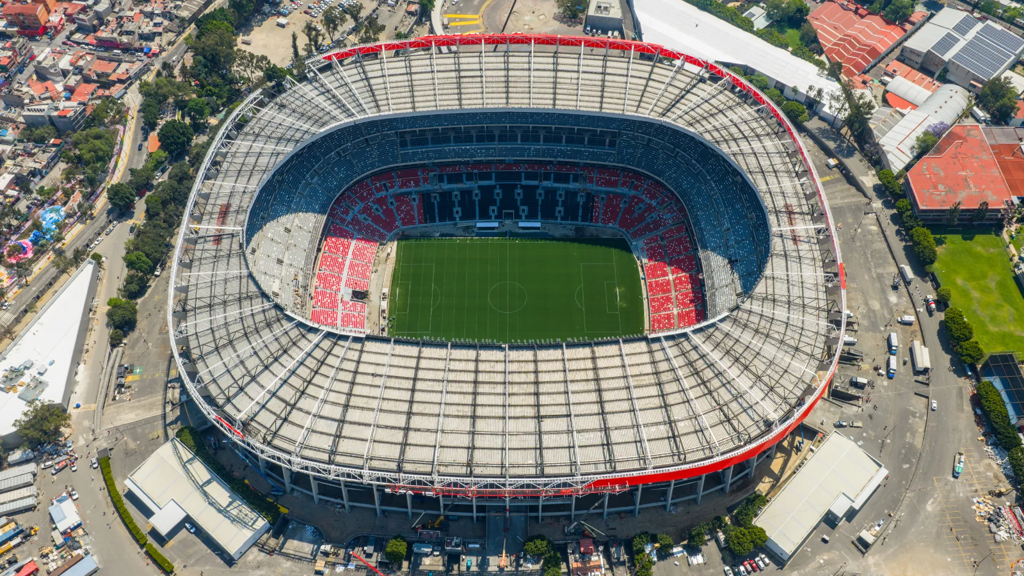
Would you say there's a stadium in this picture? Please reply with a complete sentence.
Yes, there's a stadium down there.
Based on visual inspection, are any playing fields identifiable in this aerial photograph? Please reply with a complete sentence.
Yes, there's a playing field down there.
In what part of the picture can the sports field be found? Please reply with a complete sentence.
The sports field is located in the center region of the scene.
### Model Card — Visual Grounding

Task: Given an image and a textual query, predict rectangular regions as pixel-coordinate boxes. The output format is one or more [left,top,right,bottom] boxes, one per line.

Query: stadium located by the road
[167,34,847,528]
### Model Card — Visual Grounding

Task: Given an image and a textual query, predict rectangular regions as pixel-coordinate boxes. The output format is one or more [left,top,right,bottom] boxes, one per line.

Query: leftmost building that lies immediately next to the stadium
[0,259,103,455]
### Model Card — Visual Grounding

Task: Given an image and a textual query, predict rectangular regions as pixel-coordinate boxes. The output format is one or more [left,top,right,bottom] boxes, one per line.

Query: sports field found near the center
[387,237,647,343]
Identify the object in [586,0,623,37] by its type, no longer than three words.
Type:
building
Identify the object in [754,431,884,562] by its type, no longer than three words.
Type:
building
